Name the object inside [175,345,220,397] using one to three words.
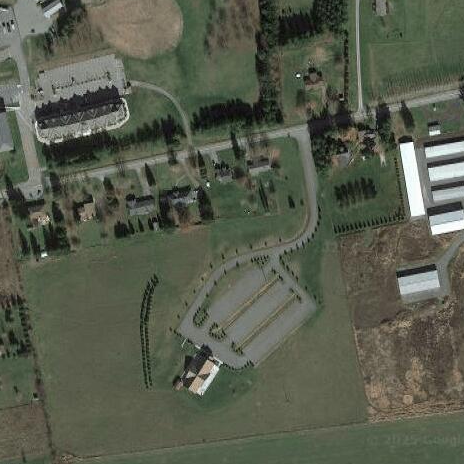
building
